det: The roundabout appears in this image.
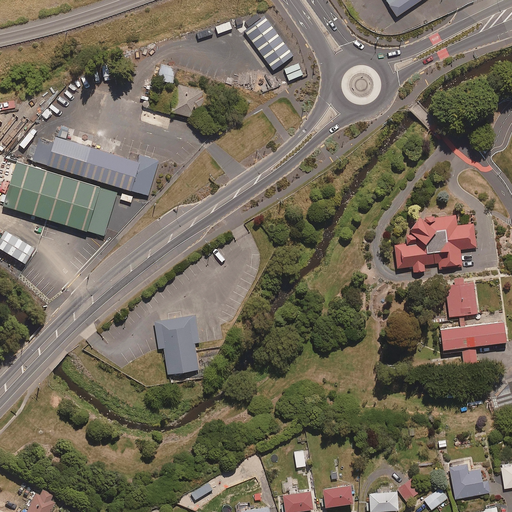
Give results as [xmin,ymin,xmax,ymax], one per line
[342,65,381,104]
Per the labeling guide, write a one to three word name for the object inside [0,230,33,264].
shed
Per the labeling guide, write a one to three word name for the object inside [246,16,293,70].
building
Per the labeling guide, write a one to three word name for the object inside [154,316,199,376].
building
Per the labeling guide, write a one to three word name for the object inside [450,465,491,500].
house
